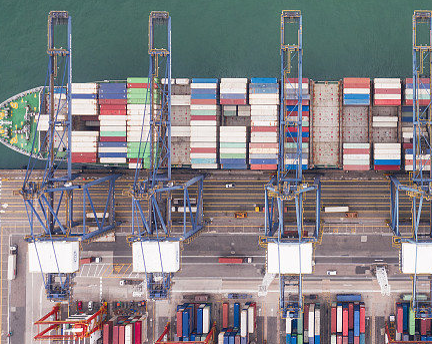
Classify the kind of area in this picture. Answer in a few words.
port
